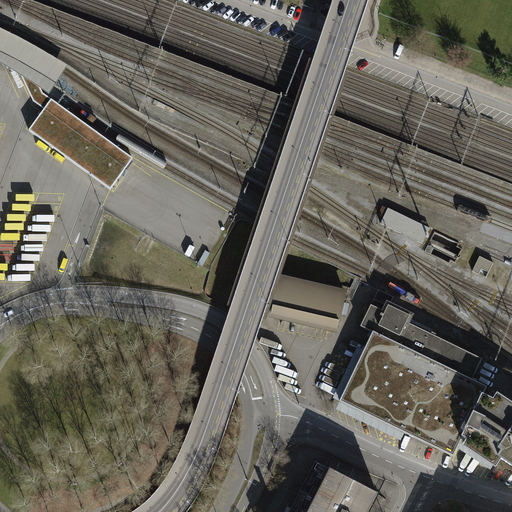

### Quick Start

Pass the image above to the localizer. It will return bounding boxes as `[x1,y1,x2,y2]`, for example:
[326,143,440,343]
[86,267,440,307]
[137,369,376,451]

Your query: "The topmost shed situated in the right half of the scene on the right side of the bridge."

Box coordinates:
[380,206,426,244]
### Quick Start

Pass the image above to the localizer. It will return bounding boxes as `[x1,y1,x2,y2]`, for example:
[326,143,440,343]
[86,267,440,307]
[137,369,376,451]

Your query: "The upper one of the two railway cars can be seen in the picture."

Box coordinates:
[64,98,103,127]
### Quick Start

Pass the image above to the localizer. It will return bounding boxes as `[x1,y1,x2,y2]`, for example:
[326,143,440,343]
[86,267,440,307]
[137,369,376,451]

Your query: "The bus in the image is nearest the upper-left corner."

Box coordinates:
[34,141,63,164]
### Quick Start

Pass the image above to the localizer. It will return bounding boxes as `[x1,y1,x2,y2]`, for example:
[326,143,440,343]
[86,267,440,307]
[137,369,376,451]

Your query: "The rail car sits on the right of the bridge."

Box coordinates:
[458,204,491,224]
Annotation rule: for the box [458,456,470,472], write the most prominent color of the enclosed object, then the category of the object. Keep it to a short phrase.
white vehicle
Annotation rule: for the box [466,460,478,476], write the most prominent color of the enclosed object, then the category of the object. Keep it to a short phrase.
white vehicle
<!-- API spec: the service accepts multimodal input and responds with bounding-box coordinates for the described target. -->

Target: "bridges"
[136,0,368,512]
